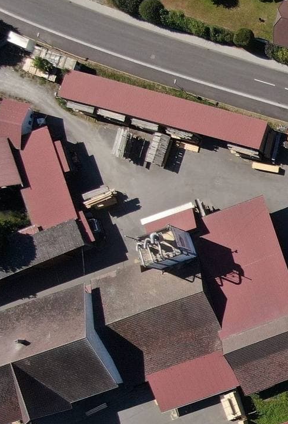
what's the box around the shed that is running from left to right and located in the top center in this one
[58,70,273,155]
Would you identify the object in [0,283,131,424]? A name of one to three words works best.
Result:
house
